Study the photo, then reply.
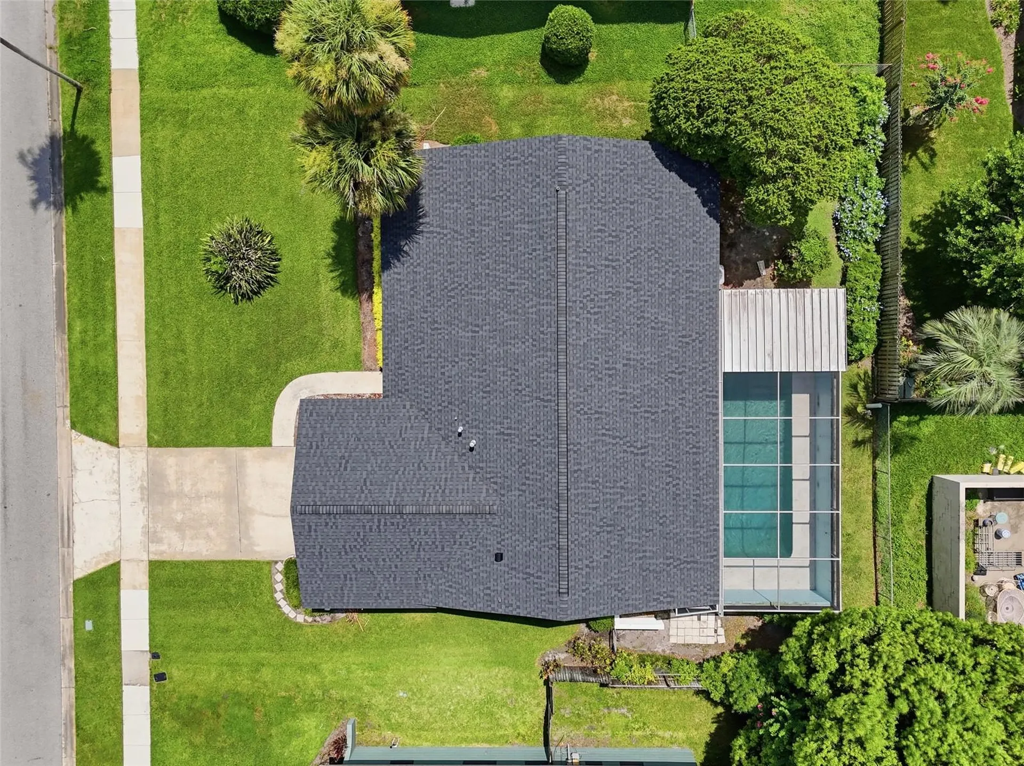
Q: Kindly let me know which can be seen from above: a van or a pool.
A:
pool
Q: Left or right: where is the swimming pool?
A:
right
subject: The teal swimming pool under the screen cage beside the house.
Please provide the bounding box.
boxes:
[722,361,793,558]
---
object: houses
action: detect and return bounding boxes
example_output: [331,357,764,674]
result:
[320,720,702,766]
[291,133,721,621]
